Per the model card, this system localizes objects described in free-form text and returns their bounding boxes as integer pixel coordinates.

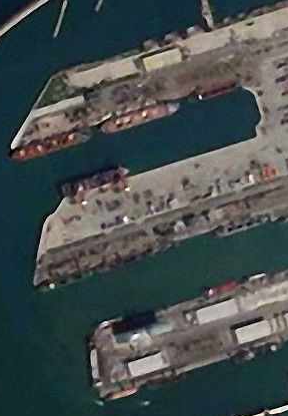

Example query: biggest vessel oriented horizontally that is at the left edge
[9,134,91,159]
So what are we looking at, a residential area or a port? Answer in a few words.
port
